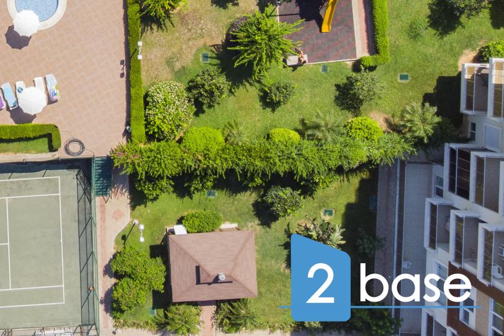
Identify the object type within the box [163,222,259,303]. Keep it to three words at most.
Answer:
building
